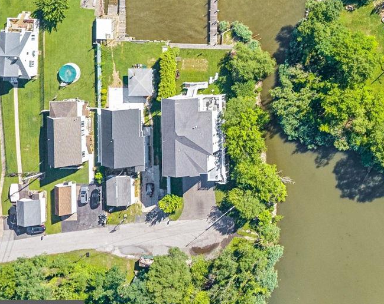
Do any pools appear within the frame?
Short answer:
Yes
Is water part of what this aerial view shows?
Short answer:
Yes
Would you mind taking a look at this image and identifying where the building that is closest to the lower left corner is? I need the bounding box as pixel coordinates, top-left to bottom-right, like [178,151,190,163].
[17,199,46,229]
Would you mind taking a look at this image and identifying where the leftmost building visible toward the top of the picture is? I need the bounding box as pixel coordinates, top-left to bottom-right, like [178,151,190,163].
[0,11,46,85]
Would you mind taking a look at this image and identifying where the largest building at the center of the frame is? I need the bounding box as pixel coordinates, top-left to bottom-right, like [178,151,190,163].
[161,81,229,183]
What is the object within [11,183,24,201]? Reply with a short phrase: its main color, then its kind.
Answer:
white vehicle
